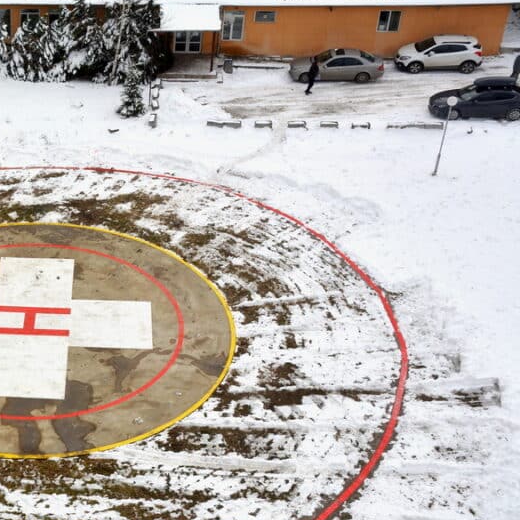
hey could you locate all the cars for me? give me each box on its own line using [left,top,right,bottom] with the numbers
[395,33,485,73]
[430,82,520,120]
[289,46,385,82]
